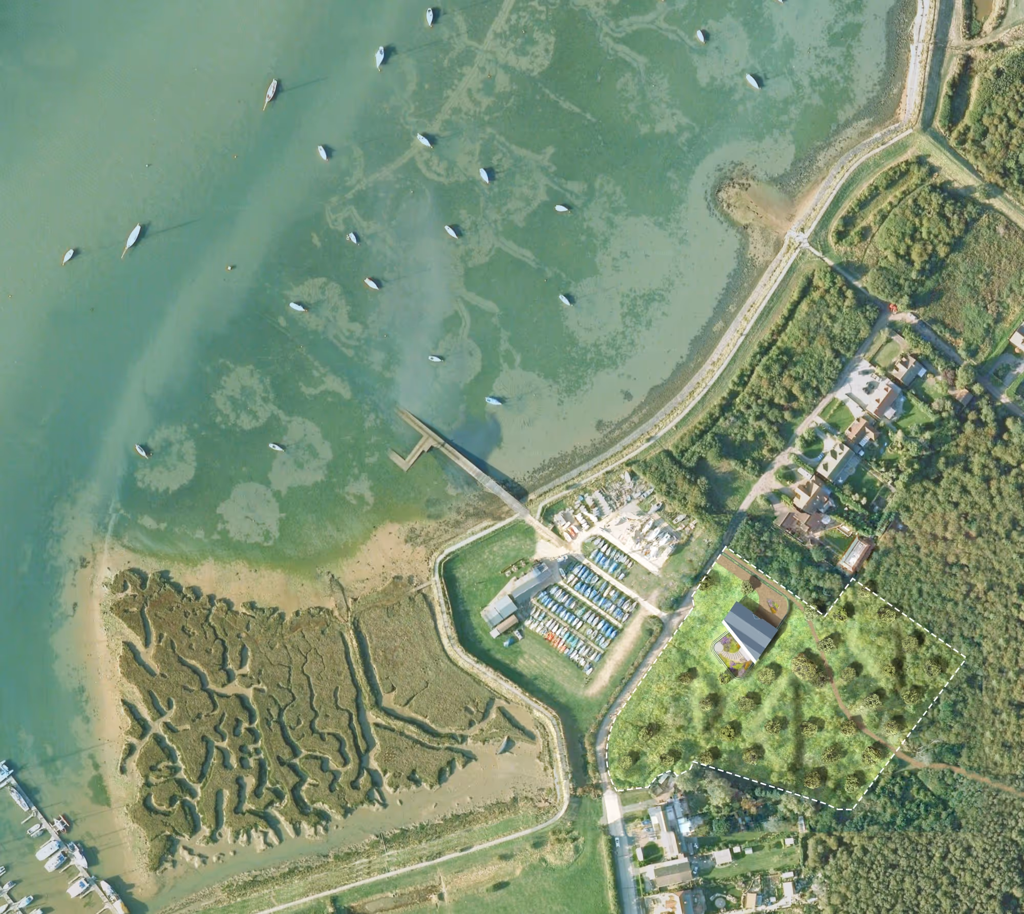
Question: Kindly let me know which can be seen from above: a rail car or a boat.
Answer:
boat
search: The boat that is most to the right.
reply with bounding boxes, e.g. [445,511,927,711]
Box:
[745,71,760,88]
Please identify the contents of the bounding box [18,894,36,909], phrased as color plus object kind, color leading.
white boat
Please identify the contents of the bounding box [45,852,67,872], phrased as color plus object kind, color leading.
white boat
